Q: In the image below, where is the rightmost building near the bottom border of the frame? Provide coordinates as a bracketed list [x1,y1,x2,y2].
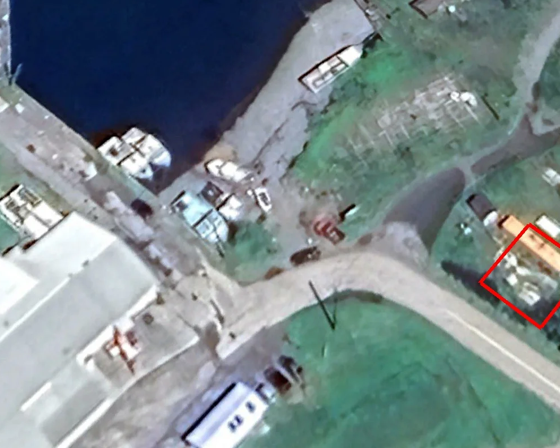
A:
[185,382,267,448]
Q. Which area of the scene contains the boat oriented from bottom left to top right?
top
